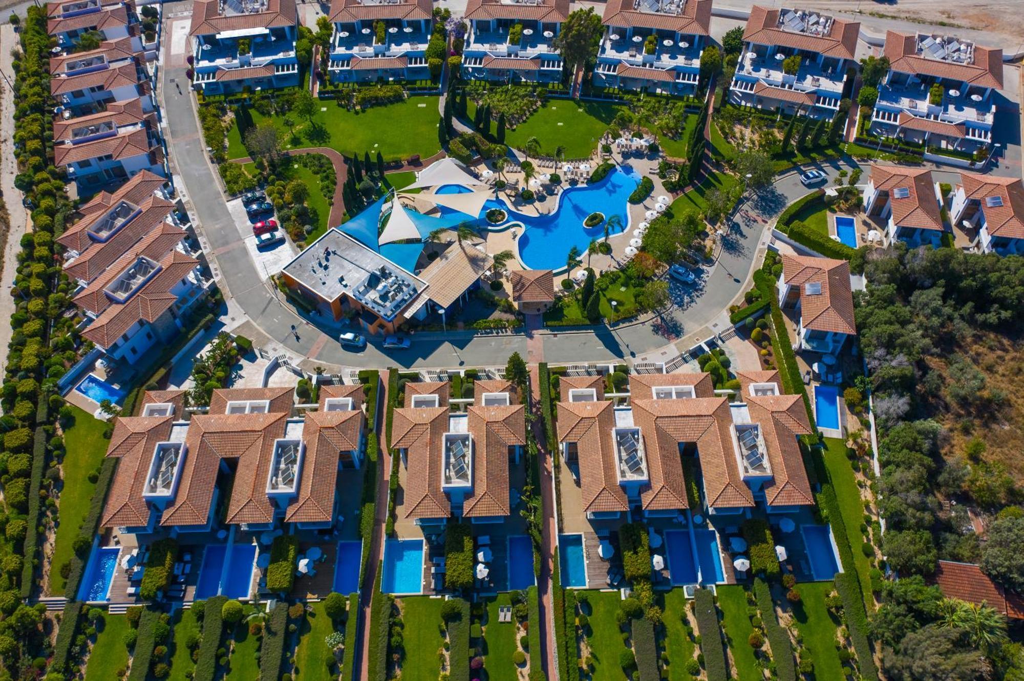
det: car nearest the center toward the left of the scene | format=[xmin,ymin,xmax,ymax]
[383,335,412,349]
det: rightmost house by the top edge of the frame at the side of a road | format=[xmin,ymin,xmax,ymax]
[866,29,1007,176]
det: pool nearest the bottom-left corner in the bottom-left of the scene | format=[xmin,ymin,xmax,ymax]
[77,545,124,605]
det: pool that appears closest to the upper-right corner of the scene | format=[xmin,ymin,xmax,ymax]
[834,214,859,250]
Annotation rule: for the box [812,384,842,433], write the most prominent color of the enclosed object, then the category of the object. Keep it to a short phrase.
blue swimming pool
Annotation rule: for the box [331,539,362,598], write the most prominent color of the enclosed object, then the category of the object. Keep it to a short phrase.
blue swimming pool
